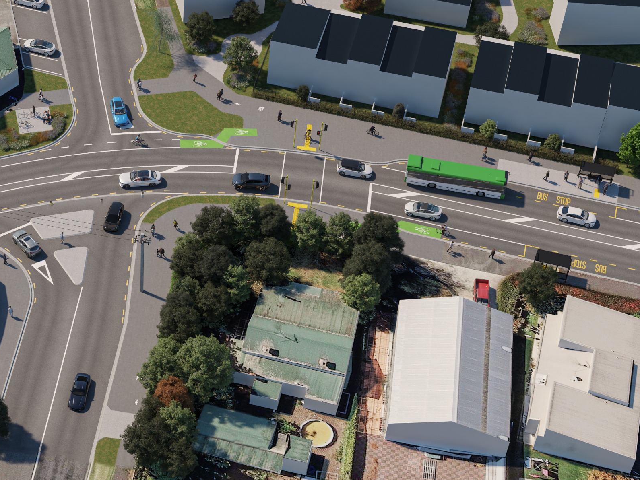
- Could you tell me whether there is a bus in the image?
Yes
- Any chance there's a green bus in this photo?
Yes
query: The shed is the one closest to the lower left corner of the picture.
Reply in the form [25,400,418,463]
[193,404,313,480]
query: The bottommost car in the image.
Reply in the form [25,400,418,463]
[69,372,92,412]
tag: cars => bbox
[103,200,124,232]
[119,170,161,188]
[21,38,58,57]
[336,159,373,178]
[11,0,45,10]
[12,228,42,259]
[555,206,598,227]
[403,200,444,221]
[69,372,92,412]
[112,97,129,125]
[231,172,271,191]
